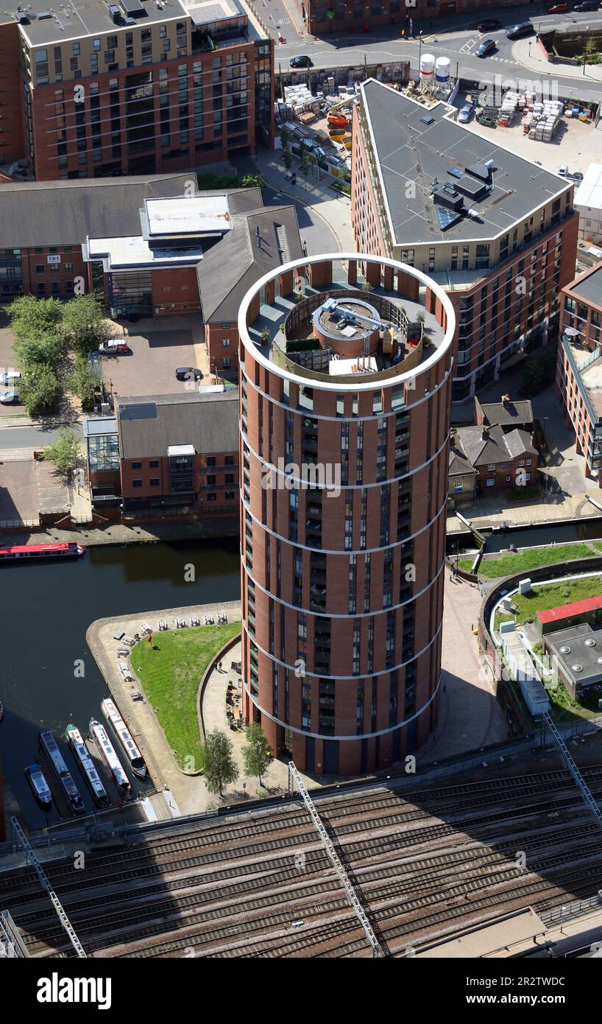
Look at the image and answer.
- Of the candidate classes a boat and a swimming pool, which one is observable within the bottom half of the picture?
boat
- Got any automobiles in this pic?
Yes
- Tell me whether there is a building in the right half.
Yes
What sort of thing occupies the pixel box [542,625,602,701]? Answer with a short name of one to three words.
building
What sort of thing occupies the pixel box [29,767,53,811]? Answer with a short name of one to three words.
boat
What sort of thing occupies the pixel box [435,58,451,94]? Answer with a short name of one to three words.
silo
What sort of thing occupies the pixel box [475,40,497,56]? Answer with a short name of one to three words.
car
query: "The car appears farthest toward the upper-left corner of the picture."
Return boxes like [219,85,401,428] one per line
[288,57,313,69]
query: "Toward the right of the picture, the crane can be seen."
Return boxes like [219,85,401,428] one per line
[318,299,408,334]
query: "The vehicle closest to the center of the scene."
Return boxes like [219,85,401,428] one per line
[176,368,203,381]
